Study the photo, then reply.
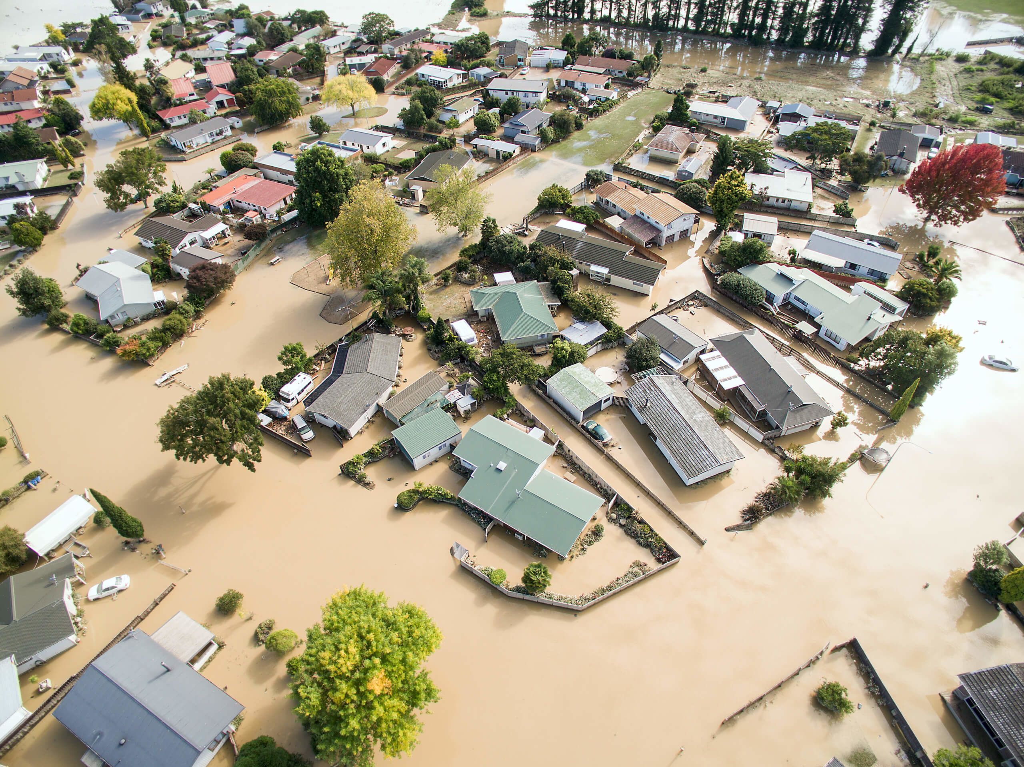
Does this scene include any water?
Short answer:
Yes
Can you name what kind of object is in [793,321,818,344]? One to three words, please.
gazebo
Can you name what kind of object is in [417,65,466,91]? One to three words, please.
house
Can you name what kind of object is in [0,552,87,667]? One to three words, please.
house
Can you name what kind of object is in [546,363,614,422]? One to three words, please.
building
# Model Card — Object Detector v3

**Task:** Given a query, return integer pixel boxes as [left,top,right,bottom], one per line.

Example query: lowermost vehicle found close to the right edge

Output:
[979,359,1016,375]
